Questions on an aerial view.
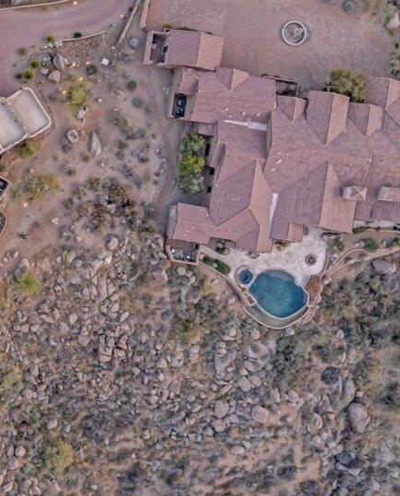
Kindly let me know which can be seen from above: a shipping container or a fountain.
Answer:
fountain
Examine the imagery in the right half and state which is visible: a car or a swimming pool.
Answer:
swimming pool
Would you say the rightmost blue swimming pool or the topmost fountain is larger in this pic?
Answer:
the swimming pool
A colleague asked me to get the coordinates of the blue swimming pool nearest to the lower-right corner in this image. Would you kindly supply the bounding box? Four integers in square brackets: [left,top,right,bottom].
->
[247,268,309,319]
